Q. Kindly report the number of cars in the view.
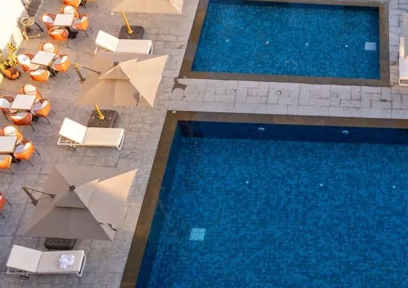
0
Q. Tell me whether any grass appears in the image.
No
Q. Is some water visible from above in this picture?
Yes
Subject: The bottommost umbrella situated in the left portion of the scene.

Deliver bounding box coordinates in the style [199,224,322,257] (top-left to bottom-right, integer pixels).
[20,164,136,251]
